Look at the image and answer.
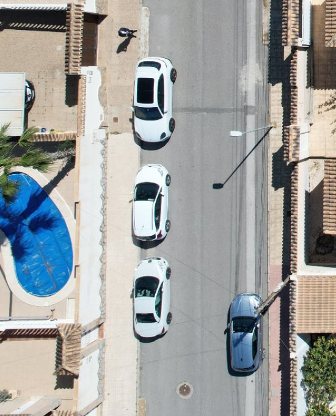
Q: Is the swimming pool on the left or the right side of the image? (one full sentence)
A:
The swimming pool sits on the left side.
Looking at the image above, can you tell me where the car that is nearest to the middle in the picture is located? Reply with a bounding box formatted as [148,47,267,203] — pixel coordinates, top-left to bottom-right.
[131,164,174,240]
